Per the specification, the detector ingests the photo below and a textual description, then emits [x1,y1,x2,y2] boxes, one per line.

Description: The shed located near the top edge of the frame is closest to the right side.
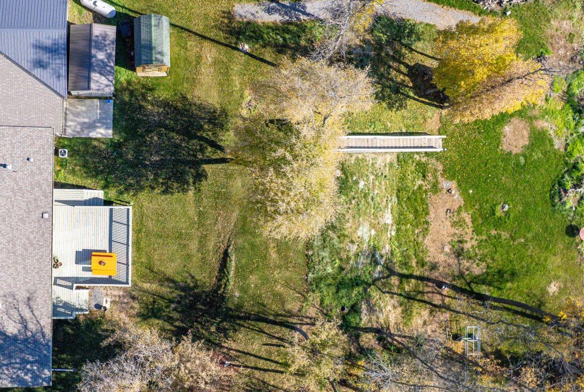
[133,14,170,77]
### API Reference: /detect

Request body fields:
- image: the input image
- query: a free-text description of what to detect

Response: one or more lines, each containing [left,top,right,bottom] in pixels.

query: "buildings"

[0,49,76,388]
[133,14,170,77]
[70,23,115,97]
